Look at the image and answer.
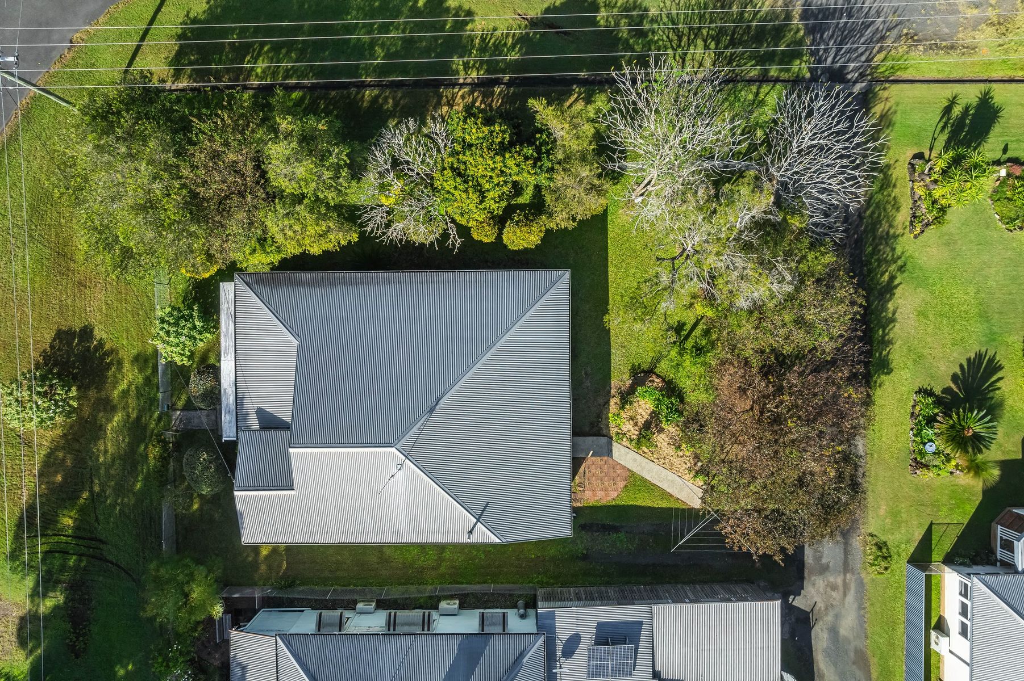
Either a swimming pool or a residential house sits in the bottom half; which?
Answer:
residential house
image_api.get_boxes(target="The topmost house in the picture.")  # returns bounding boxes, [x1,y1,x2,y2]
[219,268,574,545]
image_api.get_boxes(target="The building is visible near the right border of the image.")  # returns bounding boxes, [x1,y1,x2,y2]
[937,508,1024,681]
